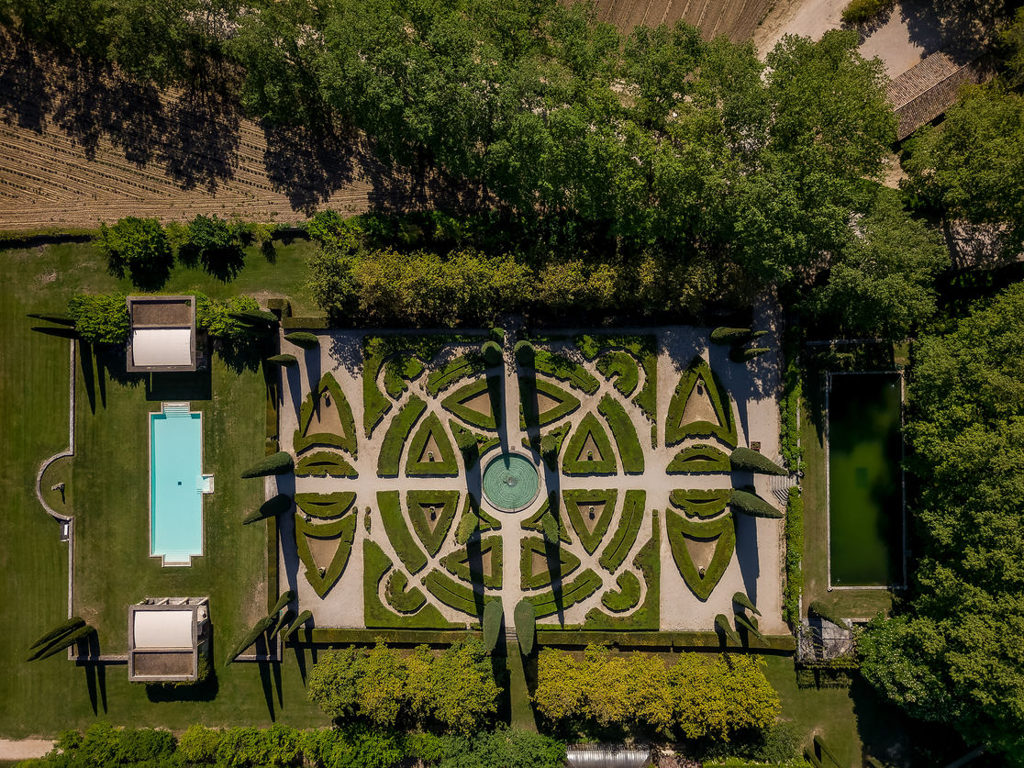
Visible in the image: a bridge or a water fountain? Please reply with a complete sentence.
There is a water fountain in the scene.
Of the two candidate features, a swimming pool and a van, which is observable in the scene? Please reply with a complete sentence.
The one in the frame is a swimming pool.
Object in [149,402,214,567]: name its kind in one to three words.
swimming pool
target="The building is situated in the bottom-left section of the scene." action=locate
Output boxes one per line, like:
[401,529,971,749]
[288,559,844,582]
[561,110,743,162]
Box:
[128,598,208,681]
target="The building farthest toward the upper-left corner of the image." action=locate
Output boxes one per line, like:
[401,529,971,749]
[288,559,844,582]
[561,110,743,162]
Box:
[127,296,206,372]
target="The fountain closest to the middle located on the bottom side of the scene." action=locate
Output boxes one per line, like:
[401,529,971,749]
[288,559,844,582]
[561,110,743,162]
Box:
[480,450,542,512]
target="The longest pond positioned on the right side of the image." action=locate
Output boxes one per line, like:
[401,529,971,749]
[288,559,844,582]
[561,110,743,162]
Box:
[826,371,907,590]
